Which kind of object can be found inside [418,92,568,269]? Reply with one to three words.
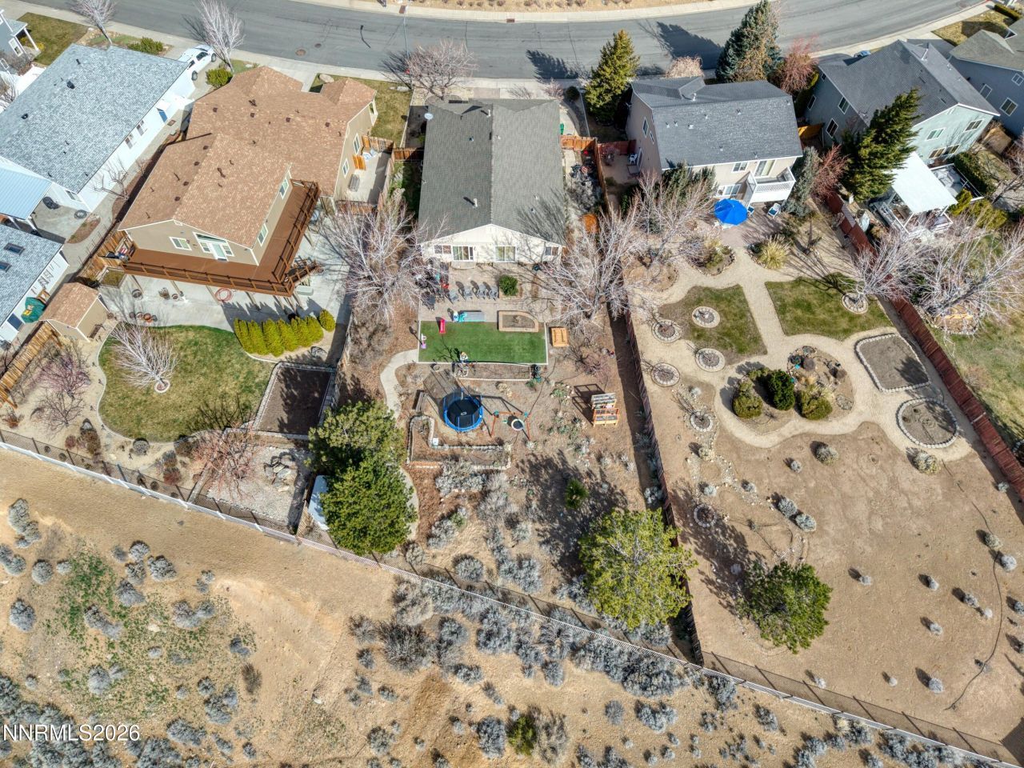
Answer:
house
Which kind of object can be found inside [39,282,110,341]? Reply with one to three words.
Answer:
shed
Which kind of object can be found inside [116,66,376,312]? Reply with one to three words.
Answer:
house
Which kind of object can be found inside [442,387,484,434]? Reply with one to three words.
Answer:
trampoline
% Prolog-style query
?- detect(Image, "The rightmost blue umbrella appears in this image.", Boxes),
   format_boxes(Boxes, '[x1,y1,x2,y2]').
[712,200,745,230]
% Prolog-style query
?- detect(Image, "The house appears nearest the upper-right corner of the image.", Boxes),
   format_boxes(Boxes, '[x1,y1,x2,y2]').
[947,3,1024,123]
